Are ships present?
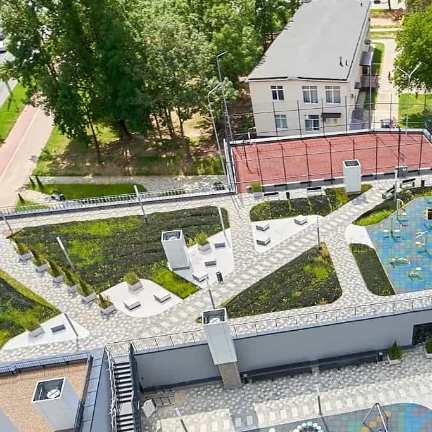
No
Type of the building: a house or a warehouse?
house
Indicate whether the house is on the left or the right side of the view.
right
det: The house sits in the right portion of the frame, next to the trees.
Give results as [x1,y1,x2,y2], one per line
[249,1,375,135]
